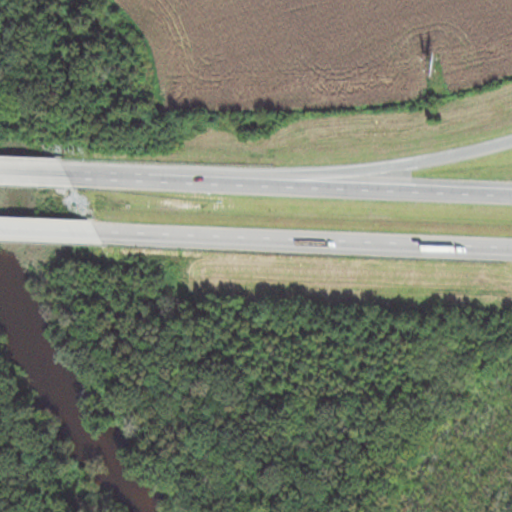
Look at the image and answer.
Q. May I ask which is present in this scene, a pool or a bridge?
bridge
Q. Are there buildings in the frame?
No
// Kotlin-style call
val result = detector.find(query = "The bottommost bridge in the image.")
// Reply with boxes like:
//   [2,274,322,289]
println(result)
[0,216,104,245]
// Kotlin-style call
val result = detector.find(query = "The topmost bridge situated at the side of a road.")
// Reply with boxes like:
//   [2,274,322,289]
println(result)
[0,156,76,188]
